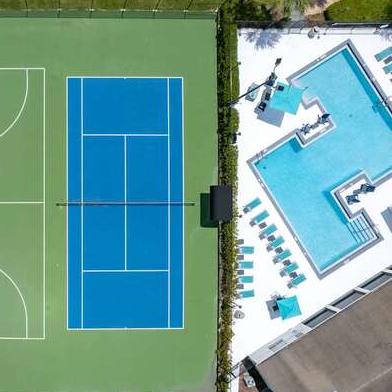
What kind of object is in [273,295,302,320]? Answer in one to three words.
umbrella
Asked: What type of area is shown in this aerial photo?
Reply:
sports ground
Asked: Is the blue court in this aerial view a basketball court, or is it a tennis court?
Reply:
tennis court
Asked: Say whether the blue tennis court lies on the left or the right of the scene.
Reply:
left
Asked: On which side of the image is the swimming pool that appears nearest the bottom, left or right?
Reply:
right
